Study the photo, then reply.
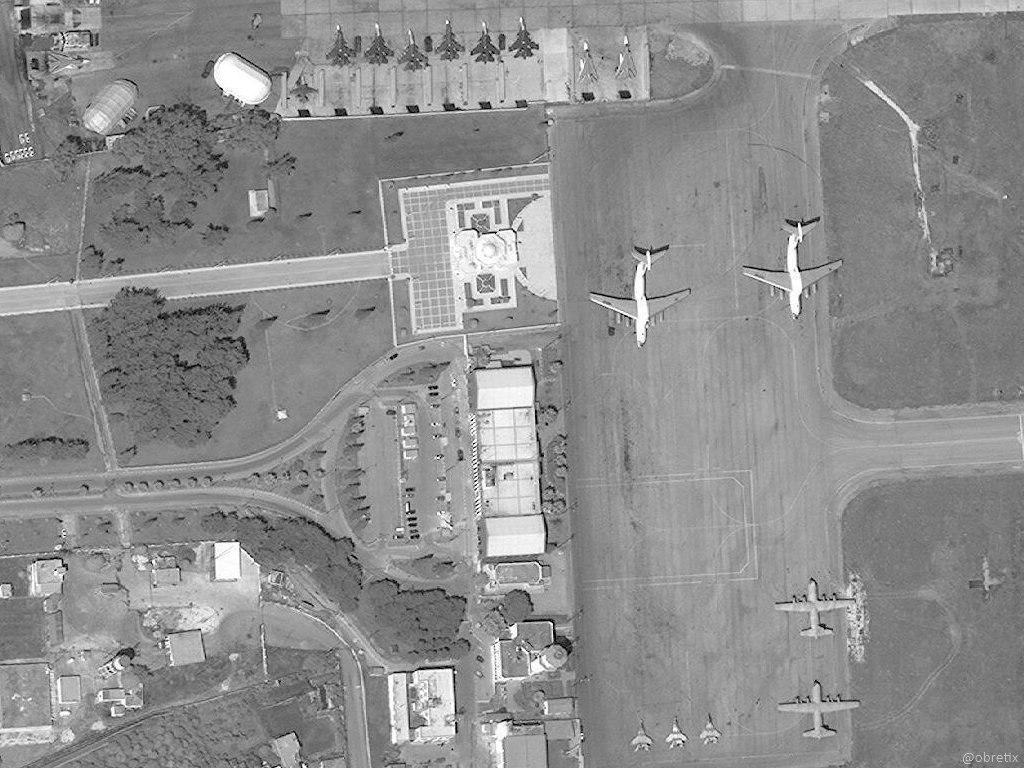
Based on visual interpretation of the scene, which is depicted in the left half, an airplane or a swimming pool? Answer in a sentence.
Visible in the left half is an airplane.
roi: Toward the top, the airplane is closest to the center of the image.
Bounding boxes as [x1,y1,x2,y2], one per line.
[588,250,690,347]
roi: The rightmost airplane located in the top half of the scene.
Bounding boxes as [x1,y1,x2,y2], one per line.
[742,221,843,318]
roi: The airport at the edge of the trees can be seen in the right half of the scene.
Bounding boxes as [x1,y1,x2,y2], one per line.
[276,0,1024,768]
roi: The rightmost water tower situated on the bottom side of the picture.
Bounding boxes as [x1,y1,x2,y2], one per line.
[99,655,132,676]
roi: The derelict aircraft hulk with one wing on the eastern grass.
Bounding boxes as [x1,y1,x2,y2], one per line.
[984,559,1005,598]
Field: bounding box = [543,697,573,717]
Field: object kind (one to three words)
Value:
building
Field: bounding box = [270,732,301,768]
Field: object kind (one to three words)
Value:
house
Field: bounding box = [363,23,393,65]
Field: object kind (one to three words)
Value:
airplane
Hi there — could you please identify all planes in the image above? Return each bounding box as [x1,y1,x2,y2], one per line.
[612,36,643,78]
[471,22,500,63]
[778,682,859,740]
[984,559,1005,598]
[588,250,690,347]
[434,21,463,62]
[363,23,393,65]
[666,717,689,750]
[742,221,843,318]
[700,716,723,747]
[288,75,319,102]
[509,17,538,60]
[775,580,856,638]
[631,719,654,753]
[397,29,426,71]
[572,41,602,82]
[325,26,355,68]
